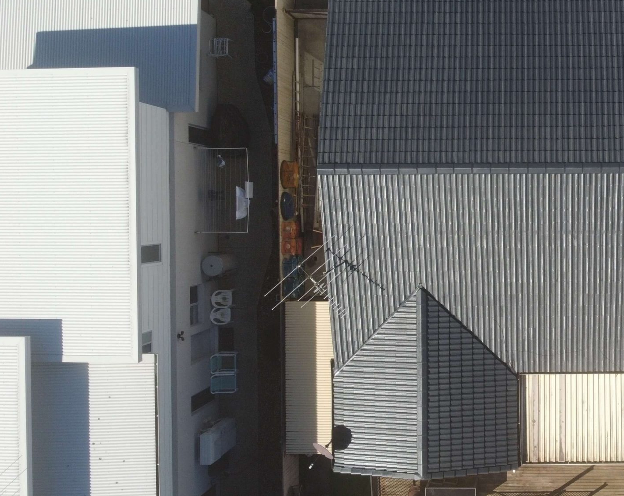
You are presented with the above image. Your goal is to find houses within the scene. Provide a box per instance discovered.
[0,0,217,496]
[314,0,624,480]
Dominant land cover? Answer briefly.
buildings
